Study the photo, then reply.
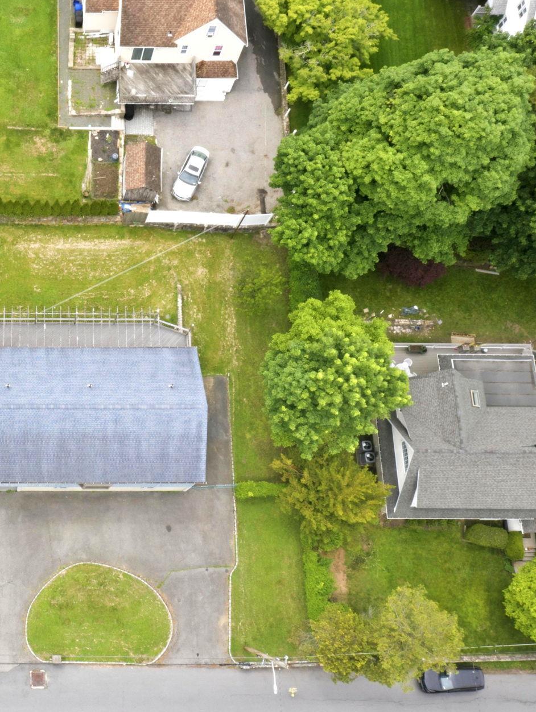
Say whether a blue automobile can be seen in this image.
No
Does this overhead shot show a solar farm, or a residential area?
residential area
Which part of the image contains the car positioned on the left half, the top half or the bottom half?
top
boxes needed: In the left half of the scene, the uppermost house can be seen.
[83,0,247,113]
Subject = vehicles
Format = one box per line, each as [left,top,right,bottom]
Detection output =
[173,146,208,204]
[414,662,488,699]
